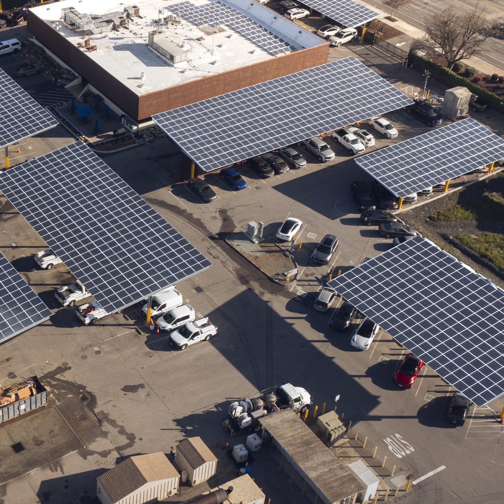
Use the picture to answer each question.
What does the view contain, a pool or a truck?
truck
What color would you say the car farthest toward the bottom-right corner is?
black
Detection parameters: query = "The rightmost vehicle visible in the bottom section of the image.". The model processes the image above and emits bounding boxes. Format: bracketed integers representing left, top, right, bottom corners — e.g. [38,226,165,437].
[443,390,475,426]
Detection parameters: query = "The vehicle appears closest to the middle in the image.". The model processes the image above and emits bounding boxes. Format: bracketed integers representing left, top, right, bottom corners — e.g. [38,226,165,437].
[271,217,304,243]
